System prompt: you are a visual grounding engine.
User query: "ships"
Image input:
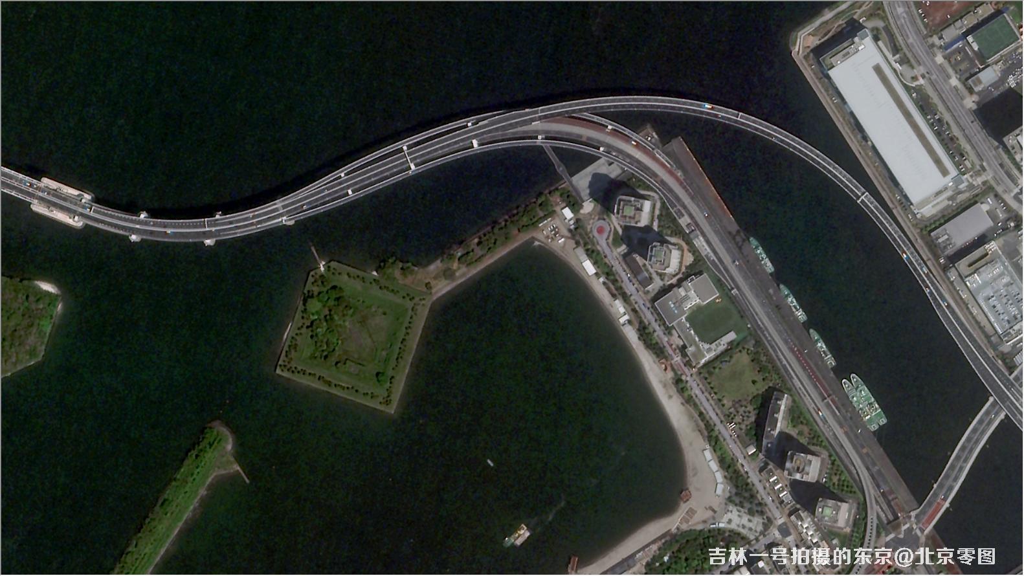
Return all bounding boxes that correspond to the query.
[850,372,886,426]
[780,283,807,323]
[513,529,531,546]
[749,236,775,273]
[842,378,879,433]
[504,524,527,546]
[809,328,836,368]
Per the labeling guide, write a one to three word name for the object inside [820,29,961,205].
warehouse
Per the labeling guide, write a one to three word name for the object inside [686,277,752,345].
sports field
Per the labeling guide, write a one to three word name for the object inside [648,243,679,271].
building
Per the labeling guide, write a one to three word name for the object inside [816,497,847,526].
building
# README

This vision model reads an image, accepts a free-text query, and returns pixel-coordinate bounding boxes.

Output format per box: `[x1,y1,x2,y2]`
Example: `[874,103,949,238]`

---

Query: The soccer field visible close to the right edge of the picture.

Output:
[973,14,1023,59]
